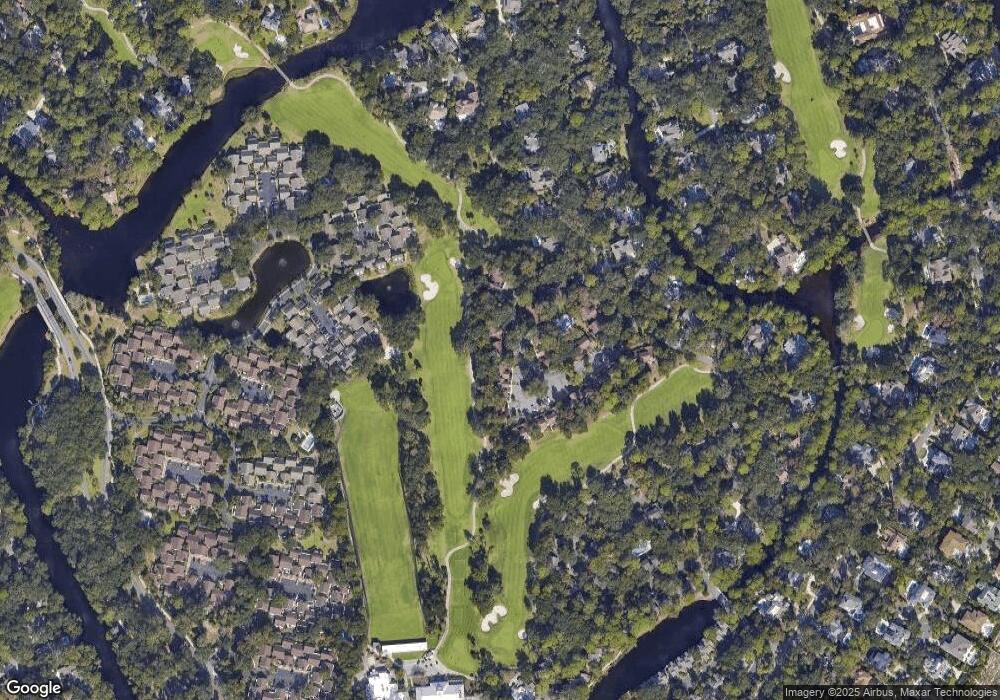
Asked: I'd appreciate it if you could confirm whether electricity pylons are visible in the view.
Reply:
No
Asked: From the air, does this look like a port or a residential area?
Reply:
residential area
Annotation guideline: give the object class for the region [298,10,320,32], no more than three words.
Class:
house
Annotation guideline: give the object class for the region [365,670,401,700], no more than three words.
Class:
building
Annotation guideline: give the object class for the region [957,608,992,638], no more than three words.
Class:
house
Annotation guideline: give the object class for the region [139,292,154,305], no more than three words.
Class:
swimming pool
